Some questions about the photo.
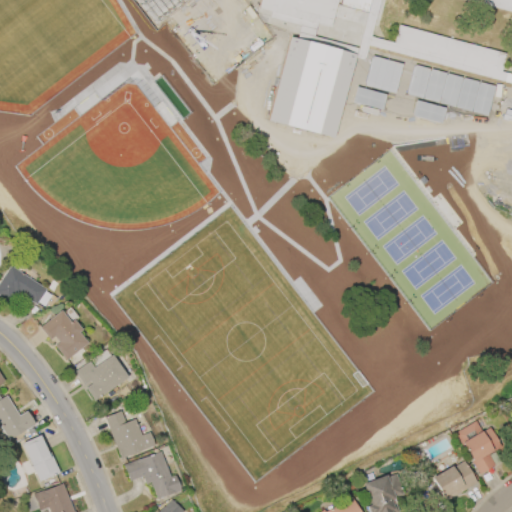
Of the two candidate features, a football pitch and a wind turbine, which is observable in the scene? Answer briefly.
football pitch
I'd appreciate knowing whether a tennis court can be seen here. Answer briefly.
Yes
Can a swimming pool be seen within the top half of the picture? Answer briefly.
No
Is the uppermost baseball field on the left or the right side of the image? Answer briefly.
left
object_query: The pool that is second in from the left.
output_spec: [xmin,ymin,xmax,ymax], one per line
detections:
[379,461,404,474]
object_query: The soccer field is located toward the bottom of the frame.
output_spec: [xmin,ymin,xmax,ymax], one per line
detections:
[116,206,372,480]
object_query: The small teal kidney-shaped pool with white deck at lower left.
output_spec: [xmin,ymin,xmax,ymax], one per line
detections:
[8,464,28,490]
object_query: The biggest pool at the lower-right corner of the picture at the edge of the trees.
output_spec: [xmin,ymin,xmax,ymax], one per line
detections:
[418,430,462,472]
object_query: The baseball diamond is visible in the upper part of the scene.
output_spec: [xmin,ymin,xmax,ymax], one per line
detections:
[17,84,217,230]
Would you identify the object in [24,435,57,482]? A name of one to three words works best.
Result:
house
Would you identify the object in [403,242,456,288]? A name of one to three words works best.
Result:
tennis court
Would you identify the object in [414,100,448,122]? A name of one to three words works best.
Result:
building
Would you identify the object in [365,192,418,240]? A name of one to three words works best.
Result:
tennis court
